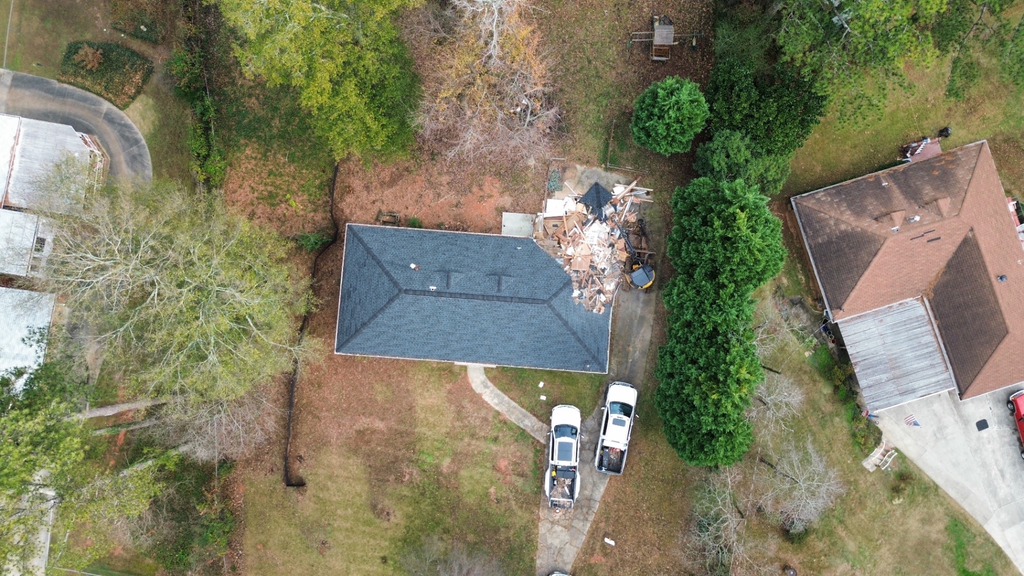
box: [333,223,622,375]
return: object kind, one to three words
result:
house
